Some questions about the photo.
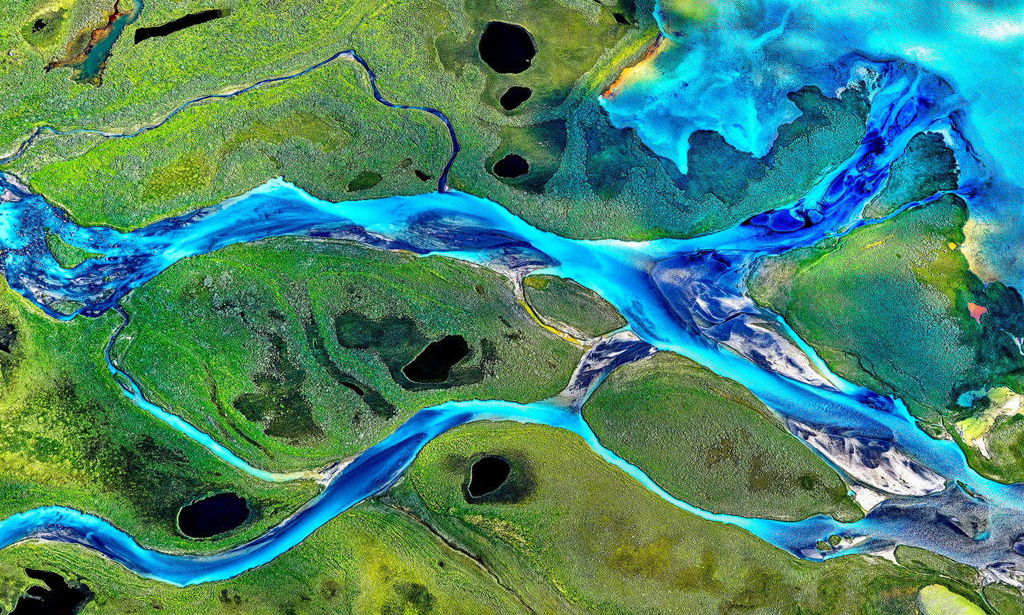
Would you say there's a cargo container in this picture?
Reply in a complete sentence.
No, there isn't any cargo container down there.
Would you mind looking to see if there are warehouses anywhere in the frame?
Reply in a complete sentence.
No, the scene contains no warehouse.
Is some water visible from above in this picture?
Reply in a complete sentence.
Yes, water can be seen from above here.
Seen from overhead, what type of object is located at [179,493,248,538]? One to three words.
pond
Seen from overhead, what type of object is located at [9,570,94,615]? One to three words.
pond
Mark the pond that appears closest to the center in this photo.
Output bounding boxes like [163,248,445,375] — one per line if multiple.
[403,335,468,382]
